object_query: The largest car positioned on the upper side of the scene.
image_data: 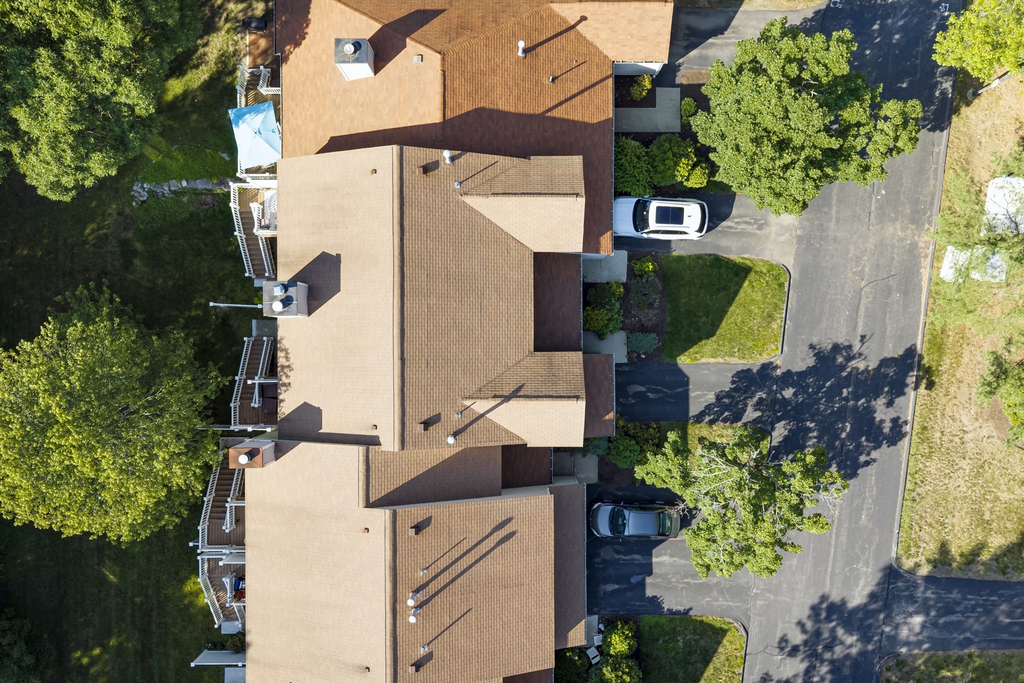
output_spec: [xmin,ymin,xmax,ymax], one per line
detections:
[616,193,709,241]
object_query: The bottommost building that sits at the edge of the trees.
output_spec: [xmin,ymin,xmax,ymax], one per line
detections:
[229,431,588,683]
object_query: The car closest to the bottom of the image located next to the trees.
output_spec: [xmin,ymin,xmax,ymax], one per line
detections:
[590,501,680,543]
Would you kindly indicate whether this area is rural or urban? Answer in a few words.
urban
